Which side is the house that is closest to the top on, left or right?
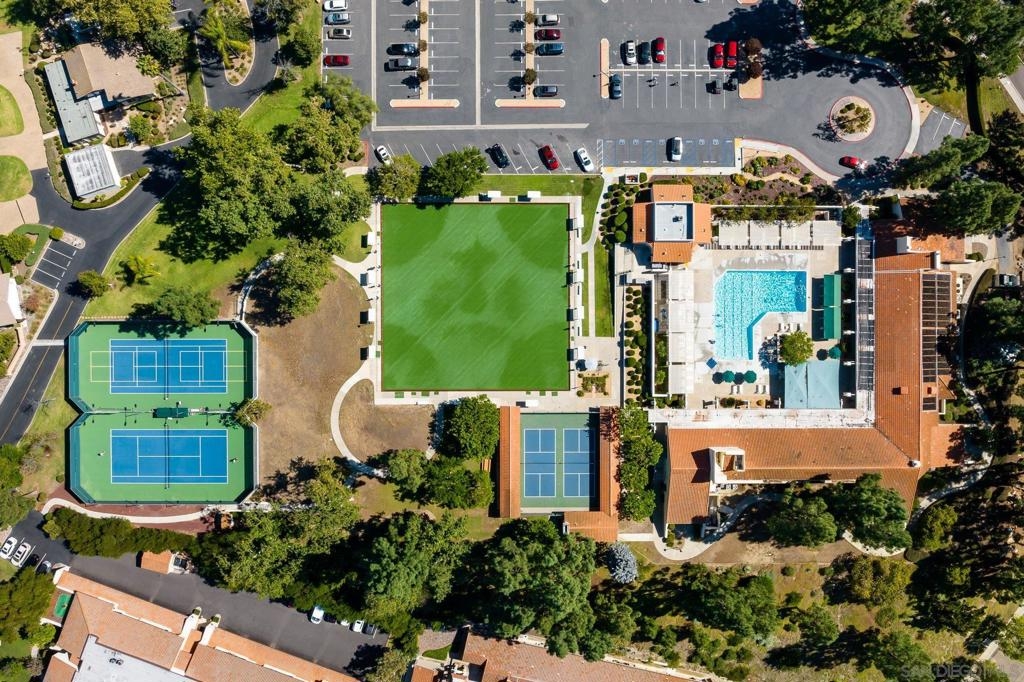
left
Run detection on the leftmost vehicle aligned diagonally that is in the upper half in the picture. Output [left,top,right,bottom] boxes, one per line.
[374,143,393,166]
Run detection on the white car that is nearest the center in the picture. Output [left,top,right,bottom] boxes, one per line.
[576,147,595,172]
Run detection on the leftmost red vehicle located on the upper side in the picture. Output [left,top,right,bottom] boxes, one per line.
[325,54,349,66]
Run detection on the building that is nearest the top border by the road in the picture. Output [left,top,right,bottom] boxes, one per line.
[45,44,187,143]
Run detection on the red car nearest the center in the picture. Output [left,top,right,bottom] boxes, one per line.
[540,145,559,169]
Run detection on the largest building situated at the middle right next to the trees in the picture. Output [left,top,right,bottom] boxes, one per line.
[649,198,976,537]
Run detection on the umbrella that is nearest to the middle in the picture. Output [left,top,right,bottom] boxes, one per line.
[584,355,599,369]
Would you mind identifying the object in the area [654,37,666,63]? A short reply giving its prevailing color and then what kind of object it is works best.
red vehicle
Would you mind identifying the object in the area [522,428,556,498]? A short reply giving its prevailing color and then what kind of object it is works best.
blue sports court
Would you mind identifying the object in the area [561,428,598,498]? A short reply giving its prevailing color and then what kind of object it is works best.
blue sports court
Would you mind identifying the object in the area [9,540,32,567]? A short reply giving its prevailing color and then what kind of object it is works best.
white car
